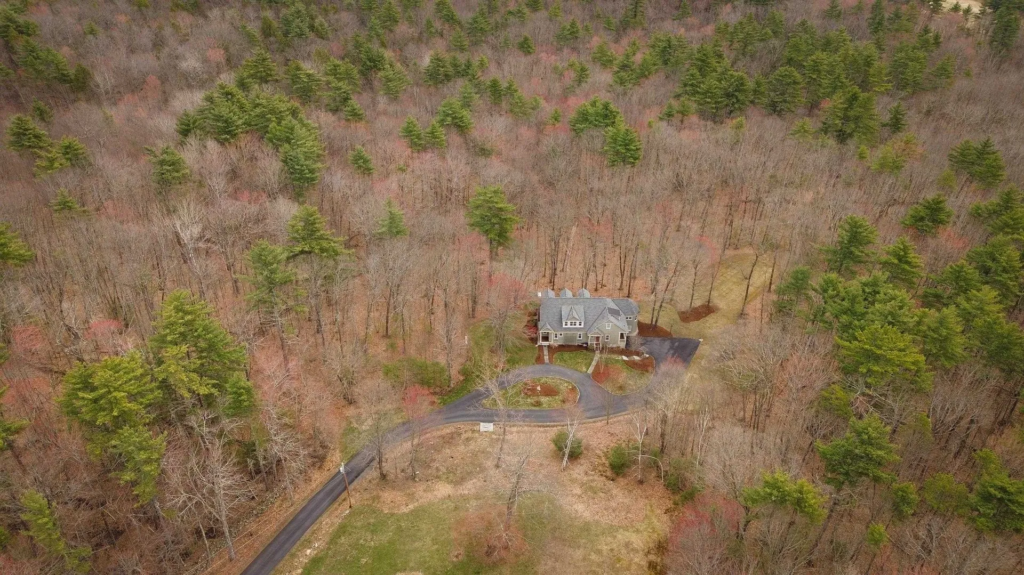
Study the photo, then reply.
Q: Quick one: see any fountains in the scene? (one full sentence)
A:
No, there appears to be no fountain in this shot.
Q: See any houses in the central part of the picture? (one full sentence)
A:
Yes, there is a house in the central part of the picture.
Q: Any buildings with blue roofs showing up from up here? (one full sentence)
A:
No, no building with a blue roof can be seen from above.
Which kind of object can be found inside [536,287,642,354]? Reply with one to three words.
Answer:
house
